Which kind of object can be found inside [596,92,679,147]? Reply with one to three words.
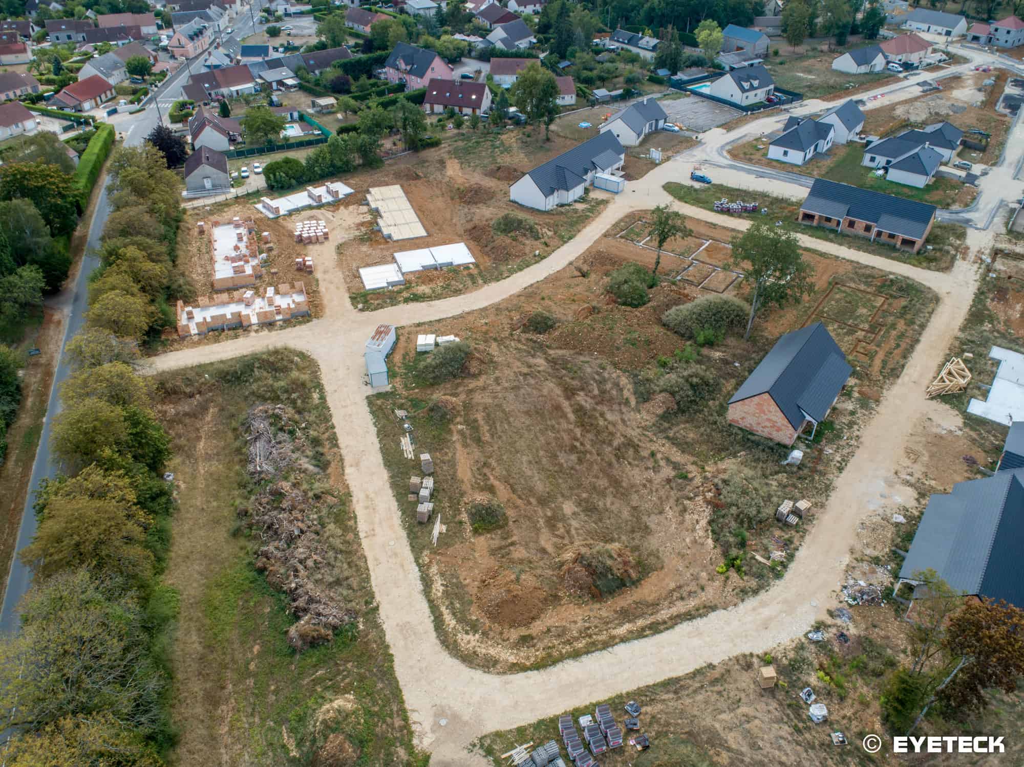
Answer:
house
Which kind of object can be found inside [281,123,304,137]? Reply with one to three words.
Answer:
swimming pool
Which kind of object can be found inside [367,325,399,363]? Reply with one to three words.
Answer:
building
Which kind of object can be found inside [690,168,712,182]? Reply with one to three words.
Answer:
vehicle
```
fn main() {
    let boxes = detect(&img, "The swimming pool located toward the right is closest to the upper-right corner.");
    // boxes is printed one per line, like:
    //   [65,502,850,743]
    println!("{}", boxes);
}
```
[685,81,712,93]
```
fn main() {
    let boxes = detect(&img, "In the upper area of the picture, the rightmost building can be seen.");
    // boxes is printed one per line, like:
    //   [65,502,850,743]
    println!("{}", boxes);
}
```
[978,15,1024,46]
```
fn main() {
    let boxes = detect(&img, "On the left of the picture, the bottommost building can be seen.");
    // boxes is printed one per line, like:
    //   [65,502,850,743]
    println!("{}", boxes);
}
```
[365,354,393,397]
